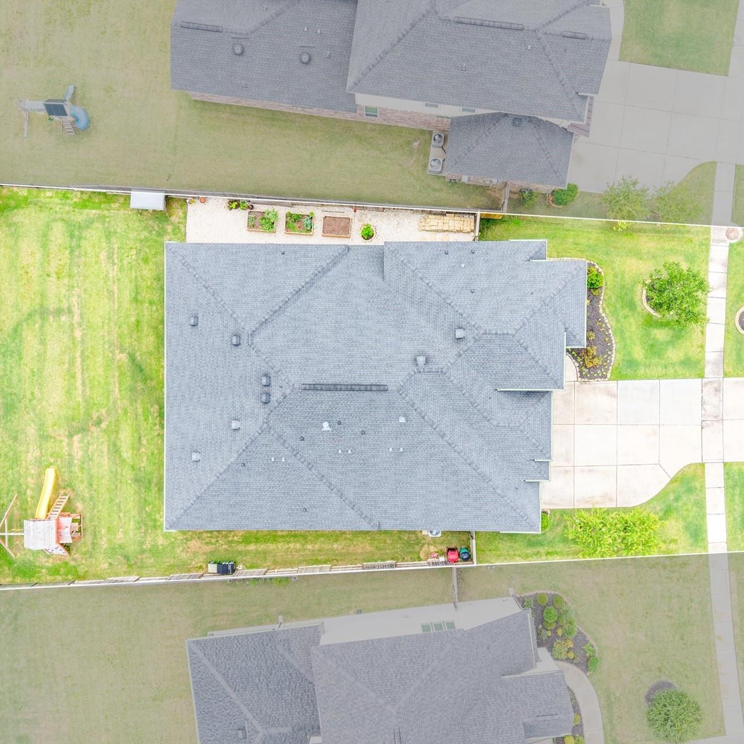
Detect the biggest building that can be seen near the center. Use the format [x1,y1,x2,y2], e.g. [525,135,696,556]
[162,239,589,535]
